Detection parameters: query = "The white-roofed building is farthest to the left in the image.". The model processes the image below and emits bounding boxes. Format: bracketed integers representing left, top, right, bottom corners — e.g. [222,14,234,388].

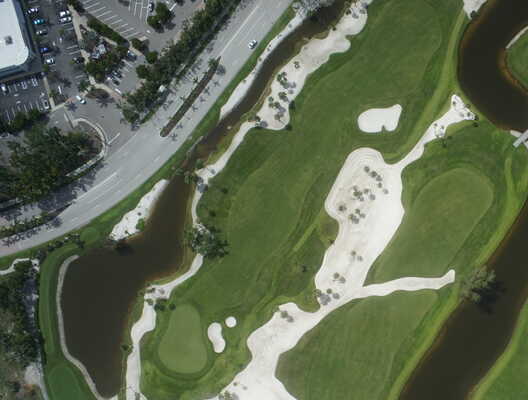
[0,0,40,77]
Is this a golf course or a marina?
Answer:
golf course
